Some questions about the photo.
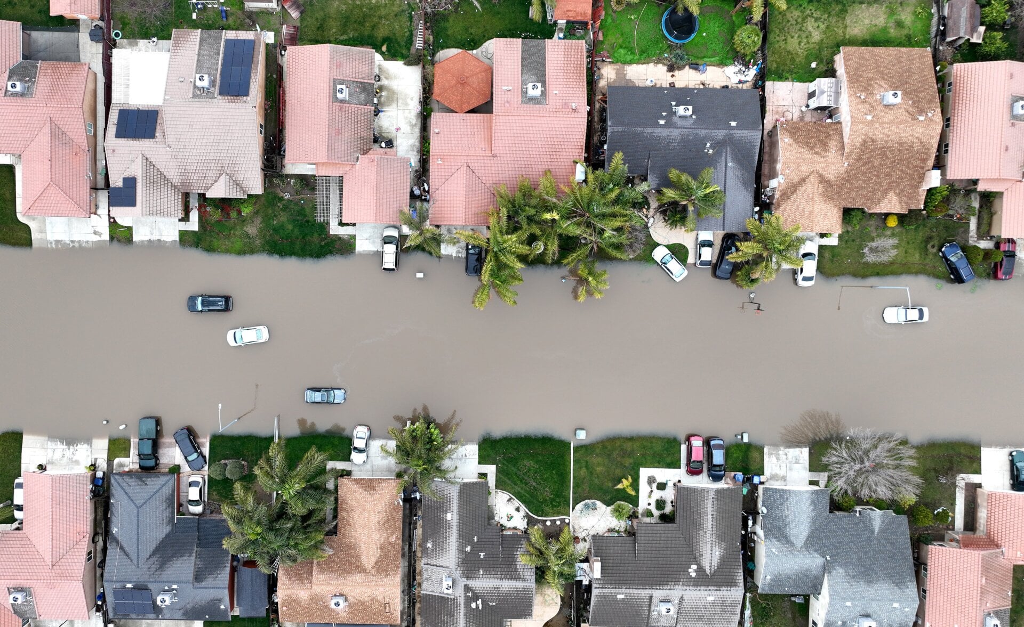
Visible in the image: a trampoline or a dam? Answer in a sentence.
The one in the frame is a trampoline.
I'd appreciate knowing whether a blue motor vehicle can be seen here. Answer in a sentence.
Yes, a blue motor vehicle appears in the view.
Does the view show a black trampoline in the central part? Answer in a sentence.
No, I see no black trampoline in the central part.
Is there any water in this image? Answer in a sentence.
Yes, water shows up in the scene.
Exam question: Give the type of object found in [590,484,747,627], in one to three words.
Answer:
house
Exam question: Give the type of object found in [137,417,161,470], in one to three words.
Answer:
truck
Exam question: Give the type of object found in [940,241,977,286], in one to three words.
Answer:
car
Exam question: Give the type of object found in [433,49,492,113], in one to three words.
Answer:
gazebo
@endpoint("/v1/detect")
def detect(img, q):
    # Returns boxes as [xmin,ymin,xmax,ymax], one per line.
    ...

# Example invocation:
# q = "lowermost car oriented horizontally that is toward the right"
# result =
[880,305,928,326]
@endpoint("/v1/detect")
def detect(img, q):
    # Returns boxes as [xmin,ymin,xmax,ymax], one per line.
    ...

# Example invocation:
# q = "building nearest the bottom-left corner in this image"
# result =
[0,469,97,627]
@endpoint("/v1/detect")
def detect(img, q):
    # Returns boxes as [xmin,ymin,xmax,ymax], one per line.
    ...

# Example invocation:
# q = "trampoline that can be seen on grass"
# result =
[662,2,701,44]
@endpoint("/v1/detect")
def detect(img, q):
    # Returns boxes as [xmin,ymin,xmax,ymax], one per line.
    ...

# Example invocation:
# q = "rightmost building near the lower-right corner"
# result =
[918,486,1024,627]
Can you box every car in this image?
[685,433,706,475]
[991,237,1016,282]
[650,245,690,284]
[707,436,728,481]
[712,233,738,281]
[185,472,207,516]
[463,234,483,278]
[695,231,715,270]
[12,475,23,520]
[380,227,401,272]
[227,325,272,346]
[880,305,928,326]
[940,241,977,286]
[188,293,235,314]
[305,386,348,406]
[1007,449,1024,489]
[350,422,372,465]
[174,425,207,471]
[795,239,819,287]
